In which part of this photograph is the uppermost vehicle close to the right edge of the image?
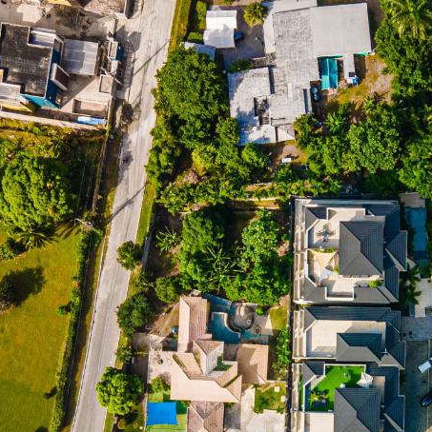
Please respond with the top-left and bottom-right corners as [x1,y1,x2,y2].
[417,356,432,374]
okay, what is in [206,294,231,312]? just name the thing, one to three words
swimming pool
